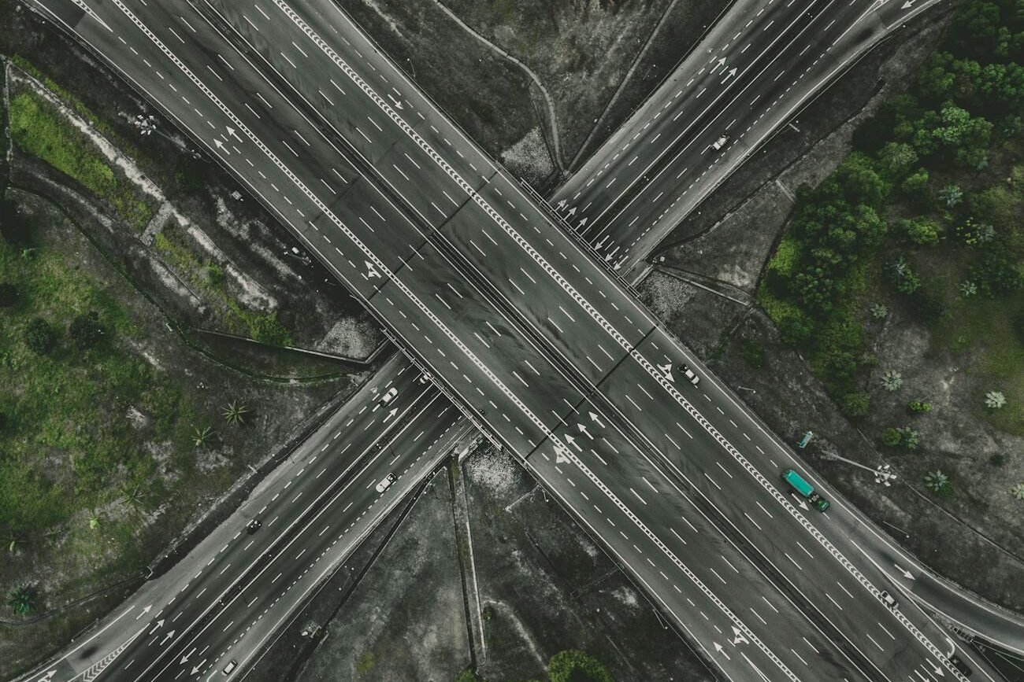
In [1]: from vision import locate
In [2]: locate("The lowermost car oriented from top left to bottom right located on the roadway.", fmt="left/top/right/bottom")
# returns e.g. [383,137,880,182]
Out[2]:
[950,657,974,680]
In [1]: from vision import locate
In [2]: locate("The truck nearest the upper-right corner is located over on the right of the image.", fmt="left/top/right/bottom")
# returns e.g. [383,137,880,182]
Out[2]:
[709,128,734,152]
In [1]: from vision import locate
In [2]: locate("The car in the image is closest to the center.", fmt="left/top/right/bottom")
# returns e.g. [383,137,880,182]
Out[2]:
[416,373,433,388]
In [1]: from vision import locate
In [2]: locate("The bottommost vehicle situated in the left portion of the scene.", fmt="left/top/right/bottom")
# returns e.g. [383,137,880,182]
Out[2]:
[220,659,239,678]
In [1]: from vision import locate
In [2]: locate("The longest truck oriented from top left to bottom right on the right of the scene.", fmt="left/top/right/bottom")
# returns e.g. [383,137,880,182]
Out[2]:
[785,471,836,516]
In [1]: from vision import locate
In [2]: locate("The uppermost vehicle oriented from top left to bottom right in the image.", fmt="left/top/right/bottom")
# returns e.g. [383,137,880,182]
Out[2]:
[678,362,702,387]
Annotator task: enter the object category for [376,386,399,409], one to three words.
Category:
vehicle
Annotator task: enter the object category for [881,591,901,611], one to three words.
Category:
car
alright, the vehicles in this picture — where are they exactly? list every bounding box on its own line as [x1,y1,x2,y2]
[678,362,702,387]
[416,373,433,388]
[220,659,239,678]
[243,518,262,537]
[376,386,399,409]
[374,472,398,495]
[709,128,734,152]
[881,591,901,611]
[950,657,974,680]
[785,471,836,516]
